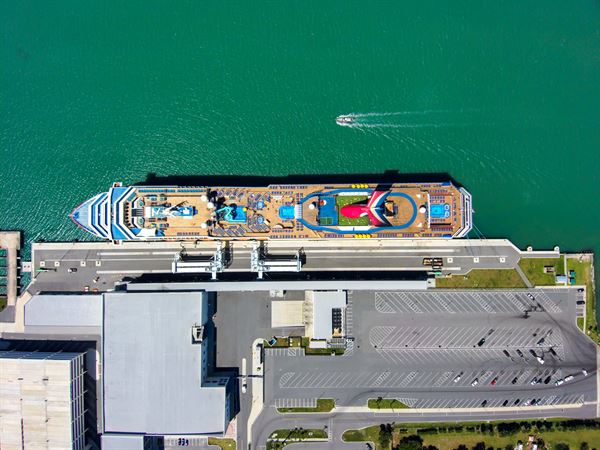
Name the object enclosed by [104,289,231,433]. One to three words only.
building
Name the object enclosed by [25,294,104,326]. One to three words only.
building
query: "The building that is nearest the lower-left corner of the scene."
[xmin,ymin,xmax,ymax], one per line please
[0,350,88,450]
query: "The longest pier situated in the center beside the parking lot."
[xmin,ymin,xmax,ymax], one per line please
[32,237,561,294]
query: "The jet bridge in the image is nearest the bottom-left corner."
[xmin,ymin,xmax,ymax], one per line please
[172,241,227,281]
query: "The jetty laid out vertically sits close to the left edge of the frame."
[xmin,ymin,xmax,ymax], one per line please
[0,231,22,300]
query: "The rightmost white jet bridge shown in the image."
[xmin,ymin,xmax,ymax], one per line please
[251,241,306,281]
